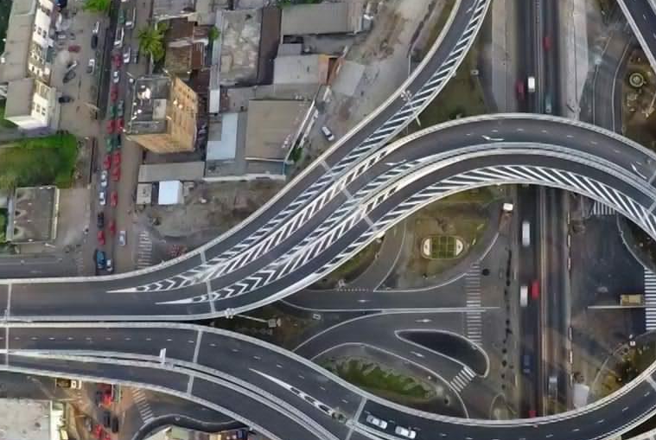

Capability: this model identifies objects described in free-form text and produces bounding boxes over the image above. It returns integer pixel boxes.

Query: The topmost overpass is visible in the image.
[0,0,656,321]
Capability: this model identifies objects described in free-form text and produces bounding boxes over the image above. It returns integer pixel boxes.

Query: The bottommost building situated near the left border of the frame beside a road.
[0,399,66,440]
